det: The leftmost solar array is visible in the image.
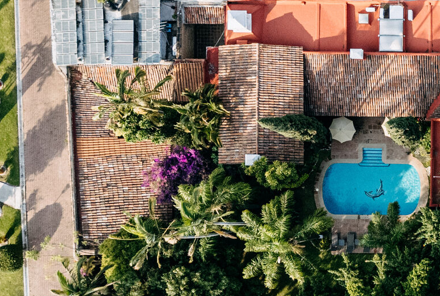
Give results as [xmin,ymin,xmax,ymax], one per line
[54,0,75,64]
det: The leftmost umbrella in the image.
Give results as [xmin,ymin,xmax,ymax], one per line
[329,117,356,144]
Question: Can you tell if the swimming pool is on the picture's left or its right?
right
